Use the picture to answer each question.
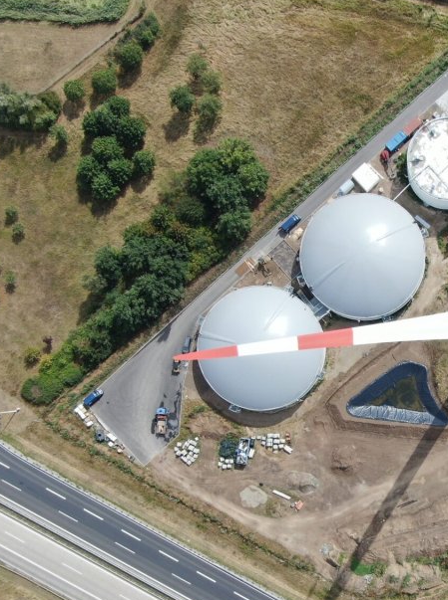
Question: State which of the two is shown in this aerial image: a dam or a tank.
tank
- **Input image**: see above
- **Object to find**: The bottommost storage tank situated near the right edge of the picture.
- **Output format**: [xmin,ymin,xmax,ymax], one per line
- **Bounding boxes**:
[297,192,430,325]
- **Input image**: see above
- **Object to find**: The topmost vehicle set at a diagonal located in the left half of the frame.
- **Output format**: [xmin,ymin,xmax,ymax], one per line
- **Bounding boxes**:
[82,389,103,406]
